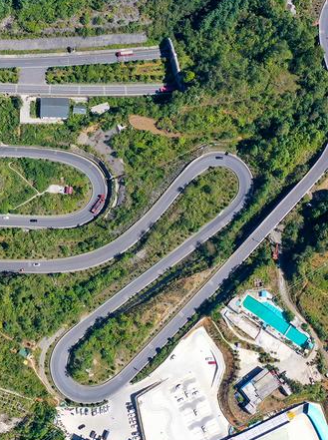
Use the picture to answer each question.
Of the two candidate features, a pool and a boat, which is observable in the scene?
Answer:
pool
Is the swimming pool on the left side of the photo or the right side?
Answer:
right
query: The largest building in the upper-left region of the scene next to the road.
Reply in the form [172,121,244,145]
[40,98,69,118]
